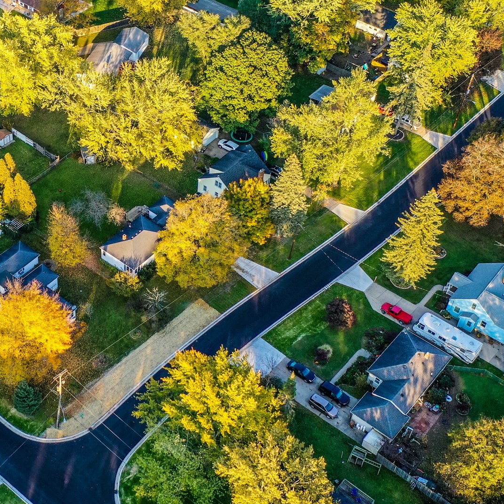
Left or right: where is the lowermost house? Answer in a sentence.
The lowermost house sits on the right side.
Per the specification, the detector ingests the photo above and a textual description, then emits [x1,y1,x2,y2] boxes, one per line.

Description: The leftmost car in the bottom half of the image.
[286,362,316,384]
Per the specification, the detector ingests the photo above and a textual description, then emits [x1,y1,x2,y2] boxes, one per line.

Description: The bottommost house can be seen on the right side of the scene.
[349,337,473,443]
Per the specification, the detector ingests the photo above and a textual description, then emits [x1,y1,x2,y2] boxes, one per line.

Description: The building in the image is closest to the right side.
[445,262,504,344]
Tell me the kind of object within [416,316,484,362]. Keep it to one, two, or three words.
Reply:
camper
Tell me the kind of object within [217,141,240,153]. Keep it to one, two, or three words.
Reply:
vehicle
